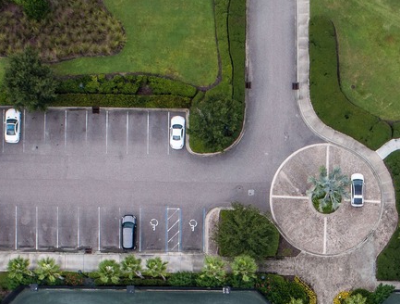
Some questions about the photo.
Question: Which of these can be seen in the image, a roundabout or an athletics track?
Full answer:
There is a roundabout in the scene.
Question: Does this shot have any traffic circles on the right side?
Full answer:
Yes, I can see a traffic circle on the right side.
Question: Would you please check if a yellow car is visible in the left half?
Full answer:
No, I can find no yellow car in the left half.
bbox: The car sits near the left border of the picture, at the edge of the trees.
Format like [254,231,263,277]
[3,110,22,144]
